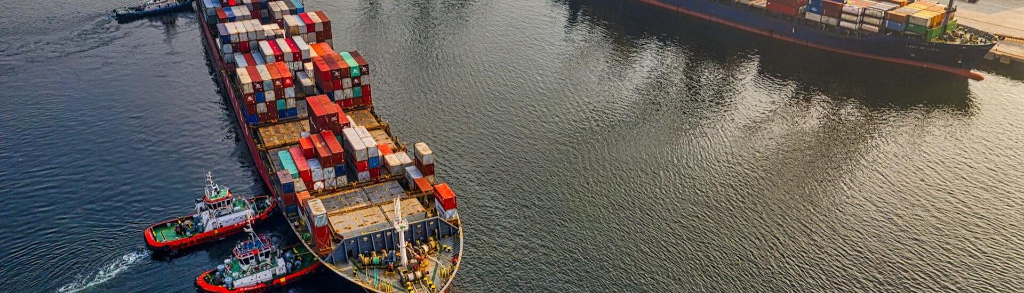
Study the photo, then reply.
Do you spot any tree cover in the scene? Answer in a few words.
No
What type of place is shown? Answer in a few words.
port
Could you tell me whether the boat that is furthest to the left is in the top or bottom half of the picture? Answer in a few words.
top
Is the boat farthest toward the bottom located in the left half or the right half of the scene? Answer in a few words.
left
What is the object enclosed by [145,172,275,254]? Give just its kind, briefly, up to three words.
boat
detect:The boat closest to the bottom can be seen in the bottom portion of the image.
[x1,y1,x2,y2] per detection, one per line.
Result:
[190,216,339,293]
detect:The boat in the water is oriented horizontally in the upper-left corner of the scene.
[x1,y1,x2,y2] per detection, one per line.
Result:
[114,0,193,20]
